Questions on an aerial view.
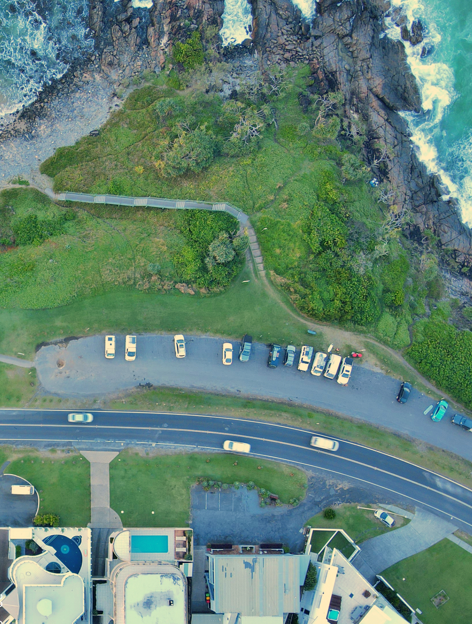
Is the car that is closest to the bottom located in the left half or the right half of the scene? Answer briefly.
right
